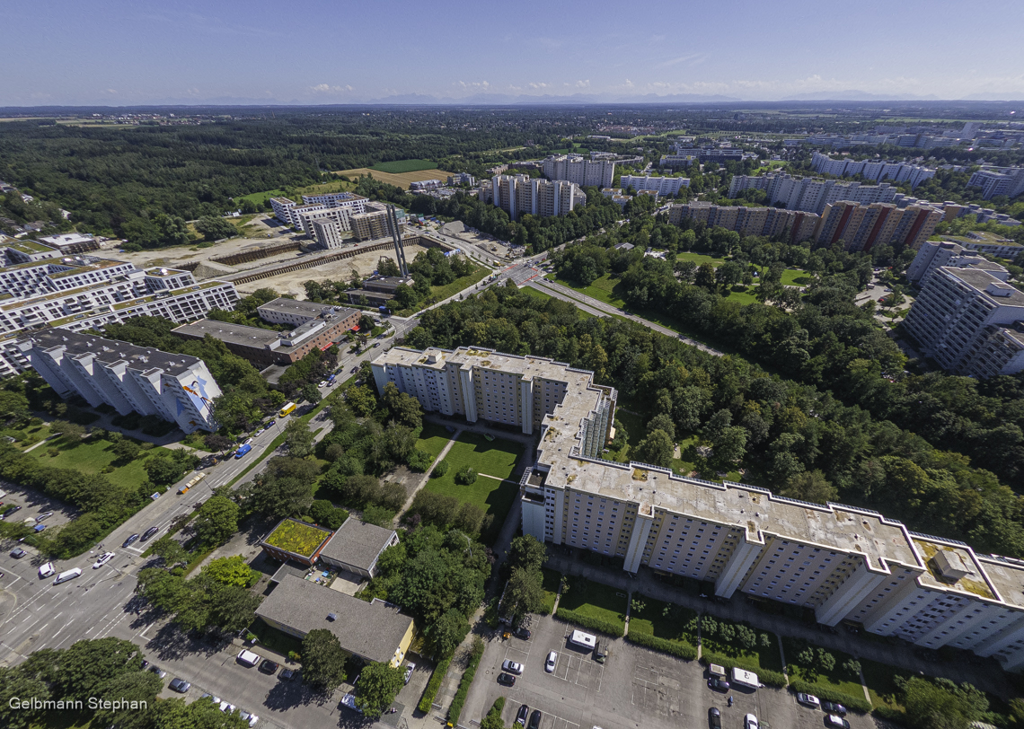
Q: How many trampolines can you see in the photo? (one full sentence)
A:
Not a single trampoline can be seen.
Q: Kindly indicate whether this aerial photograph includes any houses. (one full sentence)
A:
Yes, the photo shows a house.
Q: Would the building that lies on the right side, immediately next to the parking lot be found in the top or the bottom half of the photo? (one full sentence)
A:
Seen from above, the building that lies on the right side, immediately next to the parking lot lies in the bottom half of the view.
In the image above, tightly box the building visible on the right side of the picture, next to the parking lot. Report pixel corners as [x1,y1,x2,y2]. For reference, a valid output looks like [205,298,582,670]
[371,346,1024,672]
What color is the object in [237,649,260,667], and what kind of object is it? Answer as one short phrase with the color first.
white vehicle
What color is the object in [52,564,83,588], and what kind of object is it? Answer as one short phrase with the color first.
white vehicle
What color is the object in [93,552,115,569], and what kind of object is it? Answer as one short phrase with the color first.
white car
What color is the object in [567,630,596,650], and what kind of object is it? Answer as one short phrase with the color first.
white camper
